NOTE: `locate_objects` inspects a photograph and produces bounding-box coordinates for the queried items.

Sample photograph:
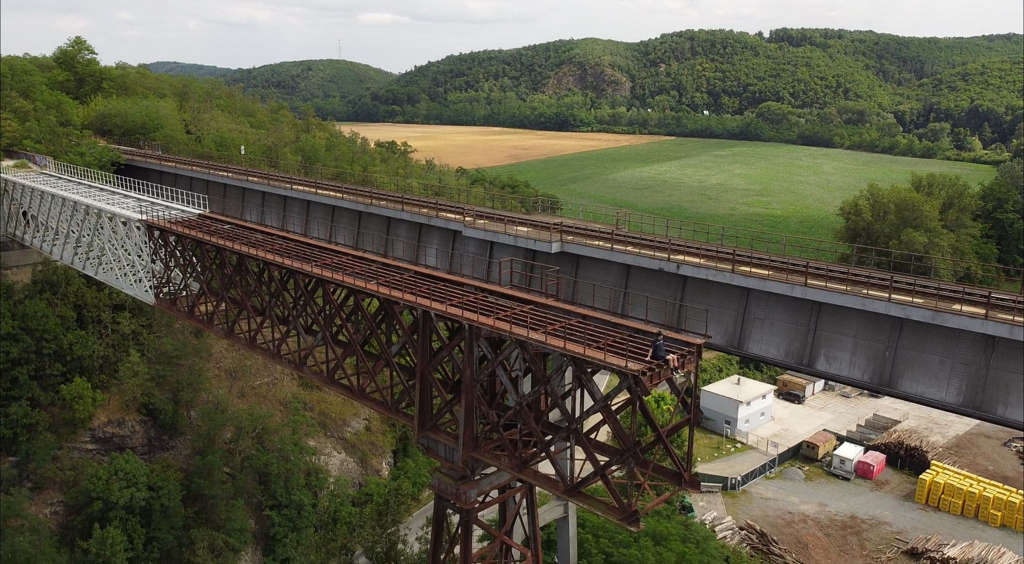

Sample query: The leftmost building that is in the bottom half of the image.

[698,374,779,441]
